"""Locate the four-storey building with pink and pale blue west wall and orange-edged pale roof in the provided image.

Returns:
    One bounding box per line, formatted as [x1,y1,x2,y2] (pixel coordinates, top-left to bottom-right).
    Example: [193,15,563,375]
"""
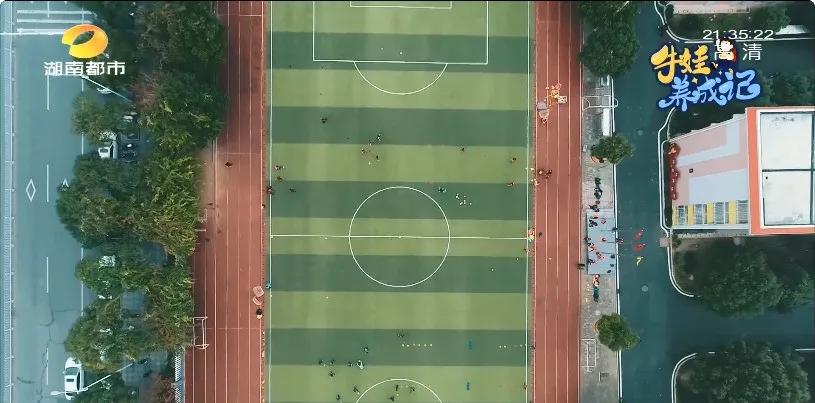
[669,108,815,234]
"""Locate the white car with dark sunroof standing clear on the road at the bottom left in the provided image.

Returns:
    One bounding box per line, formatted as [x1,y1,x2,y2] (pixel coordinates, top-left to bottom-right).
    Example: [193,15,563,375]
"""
[60,357,83,400]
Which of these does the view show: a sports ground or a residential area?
sports ground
